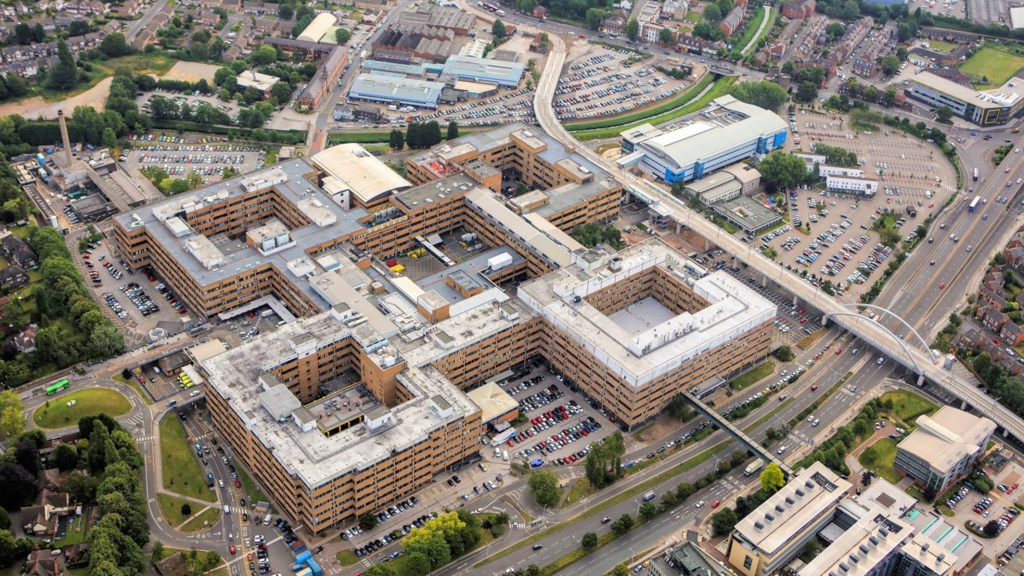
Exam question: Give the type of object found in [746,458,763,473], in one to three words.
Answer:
vehicle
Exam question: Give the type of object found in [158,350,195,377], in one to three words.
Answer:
building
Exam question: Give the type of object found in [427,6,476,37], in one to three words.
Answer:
shed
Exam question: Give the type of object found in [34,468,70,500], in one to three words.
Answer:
house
